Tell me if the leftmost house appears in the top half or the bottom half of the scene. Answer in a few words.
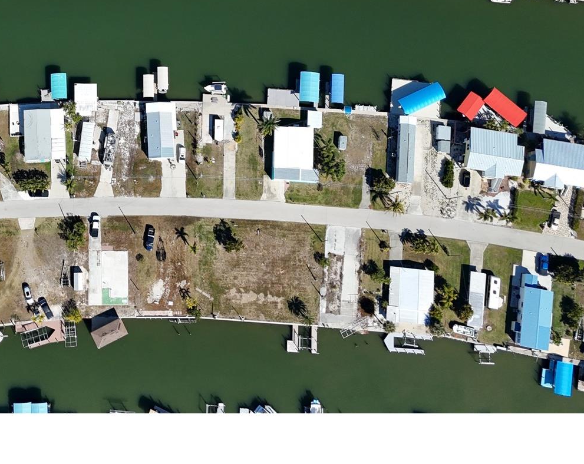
top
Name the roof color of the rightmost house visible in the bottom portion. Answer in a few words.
blue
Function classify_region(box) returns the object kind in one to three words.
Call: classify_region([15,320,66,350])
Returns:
pier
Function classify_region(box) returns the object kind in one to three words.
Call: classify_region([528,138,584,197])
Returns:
house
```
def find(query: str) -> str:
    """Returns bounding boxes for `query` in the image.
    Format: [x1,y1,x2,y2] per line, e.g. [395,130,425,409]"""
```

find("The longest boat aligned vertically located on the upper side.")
[104,132,118,172]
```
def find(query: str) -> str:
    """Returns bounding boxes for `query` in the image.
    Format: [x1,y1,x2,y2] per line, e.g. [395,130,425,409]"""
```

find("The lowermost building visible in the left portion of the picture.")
[91,319,128,349]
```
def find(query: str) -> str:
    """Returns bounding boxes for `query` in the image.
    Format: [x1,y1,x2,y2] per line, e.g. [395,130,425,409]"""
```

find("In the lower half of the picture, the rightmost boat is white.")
[453,325,477,337]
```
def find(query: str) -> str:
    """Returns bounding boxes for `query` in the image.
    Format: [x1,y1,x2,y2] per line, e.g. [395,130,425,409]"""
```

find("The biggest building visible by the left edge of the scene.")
[23,109,66,163]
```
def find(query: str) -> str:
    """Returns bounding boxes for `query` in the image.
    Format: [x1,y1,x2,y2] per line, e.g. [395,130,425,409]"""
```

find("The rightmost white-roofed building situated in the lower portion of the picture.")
[464,271,486,328]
